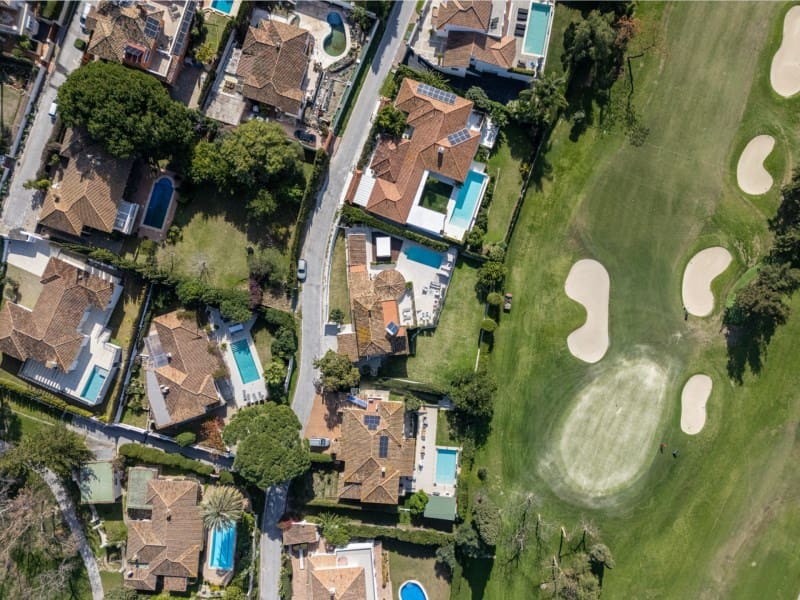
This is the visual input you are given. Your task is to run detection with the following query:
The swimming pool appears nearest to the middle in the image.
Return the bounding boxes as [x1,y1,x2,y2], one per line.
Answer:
[402,244,445,270]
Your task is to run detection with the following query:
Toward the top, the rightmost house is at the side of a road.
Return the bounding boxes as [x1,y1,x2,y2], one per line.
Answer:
[438,0,516,77]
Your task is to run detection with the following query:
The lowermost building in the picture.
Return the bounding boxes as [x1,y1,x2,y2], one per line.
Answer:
[306,540,375,600]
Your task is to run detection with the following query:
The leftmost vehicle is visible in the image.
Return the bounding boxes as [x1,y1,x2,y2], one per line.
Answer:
[48,102,61,122]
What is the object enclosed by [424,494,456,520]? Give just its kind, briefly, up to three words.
shed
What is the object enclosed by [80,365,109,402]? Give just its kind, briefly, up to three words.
swimming pool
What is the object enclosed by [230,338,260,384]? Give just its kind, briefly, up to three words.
swimming pool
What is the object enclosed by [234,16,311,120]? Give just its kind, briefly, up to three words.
house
